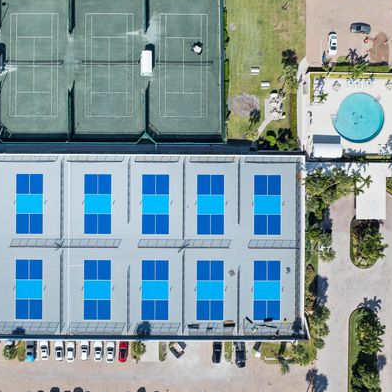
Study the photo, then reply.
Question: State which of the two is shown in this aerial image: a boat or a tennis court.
tennis court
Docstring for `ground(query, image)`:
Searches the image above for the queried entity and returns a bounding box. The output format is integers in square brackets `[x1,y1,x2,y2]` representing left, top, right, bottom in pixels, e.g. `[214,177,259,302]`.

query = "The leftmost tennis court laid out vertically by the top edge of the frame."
[0,0,71,143]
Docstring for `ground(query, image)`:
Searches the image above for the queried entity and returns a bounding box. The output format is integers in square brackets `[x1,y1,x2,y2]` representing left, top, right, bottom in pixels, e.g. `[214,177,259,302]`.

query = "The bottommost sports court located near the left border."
[13,259,45,319]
